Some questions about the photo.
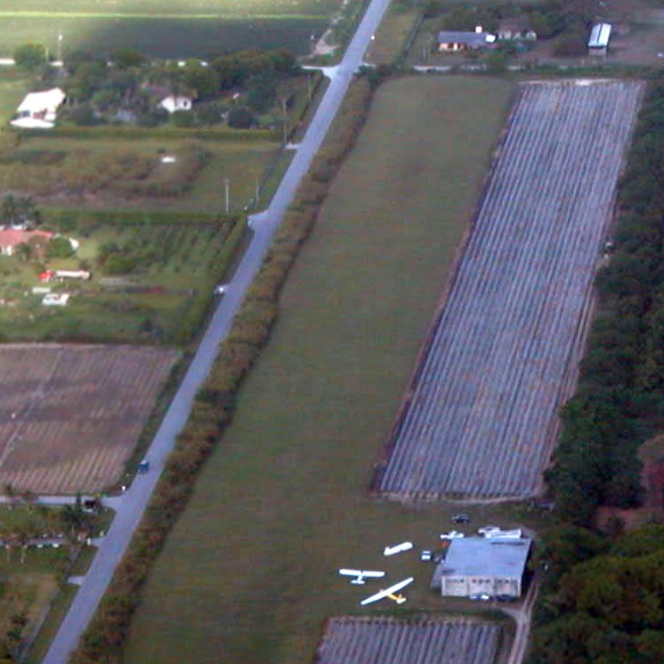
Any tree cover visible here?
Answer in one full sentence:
Yes, some tree cover is visible.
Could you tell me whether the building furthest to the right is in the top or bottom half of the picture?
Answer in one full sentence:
Seen from above, the building furthest to the right lies in the top half of the view.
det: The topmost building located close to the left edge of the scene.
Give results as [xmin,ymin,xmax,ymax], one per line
[11,92,69,126]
